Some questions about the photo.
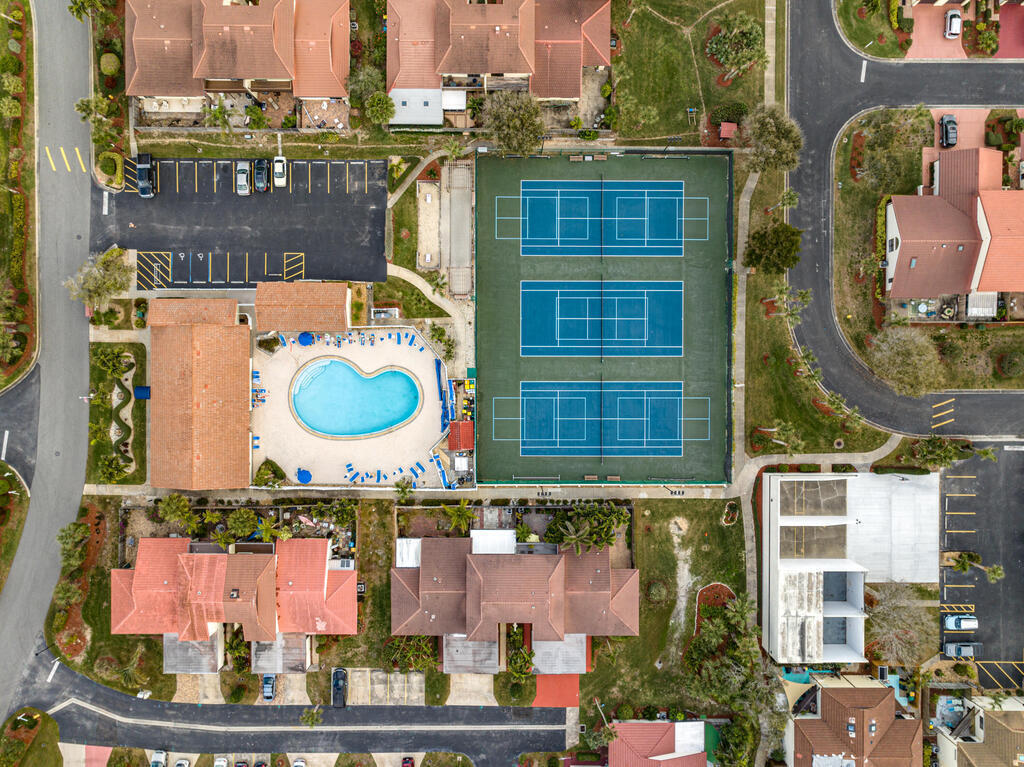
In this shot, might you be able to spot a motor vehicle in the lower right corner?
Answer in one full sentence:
Yes, a motor vehicle is visible in the lower right corner.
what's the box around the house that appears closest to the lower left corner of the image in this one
[111,537,358,674]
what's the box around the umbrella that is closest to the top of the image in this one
[299,332,313,346]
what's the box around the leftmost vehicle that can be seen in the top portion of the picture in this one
[136,156,155,198]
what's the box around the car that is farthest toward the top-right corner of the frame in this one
[942,10,961,41]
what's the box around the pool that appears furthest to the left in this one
[289,355,425,440]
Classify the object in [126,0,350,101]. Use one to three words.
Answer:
house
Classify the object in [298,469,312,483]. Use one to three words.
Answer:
umbrella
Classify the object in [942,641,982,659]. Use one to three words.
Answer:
vehicle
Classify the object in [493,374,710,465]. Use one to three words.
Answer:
tennis court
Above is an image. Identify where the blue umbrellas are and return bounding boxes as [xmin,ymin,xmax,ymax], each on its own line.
[299,332,313,346]
[298,469,312,483]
